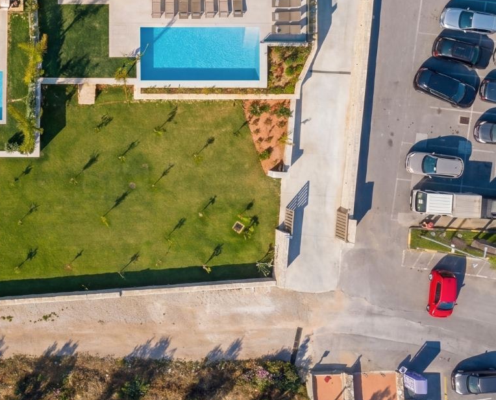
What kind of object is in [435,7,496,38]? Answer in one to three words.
car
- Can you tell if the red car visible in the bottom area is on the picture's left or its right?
right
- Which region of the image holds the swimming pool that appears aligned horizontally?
top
